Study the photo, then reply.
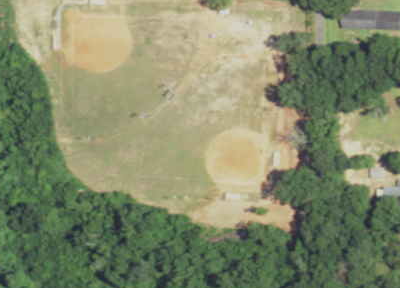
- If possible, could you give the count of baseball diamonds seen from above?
2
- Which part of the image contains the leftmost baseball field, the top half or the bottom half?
top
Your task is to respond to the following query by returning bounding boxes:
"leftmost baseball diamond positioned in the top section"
[63,8,198,140]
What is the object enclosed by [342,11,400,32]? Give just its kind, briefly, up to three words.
house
